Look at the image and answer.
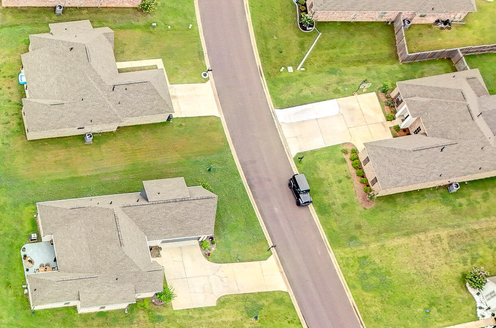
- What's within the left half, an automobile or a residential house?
residential house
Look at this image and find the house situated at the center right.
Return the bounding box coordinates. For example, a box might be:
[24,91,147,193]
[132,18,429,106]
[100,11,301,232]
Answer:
[357,67,496,196]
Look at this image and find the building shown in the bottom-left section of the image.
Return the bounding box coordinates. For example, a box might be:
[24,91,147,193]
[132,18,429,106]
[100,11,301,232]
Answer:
[26,174,216,314]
